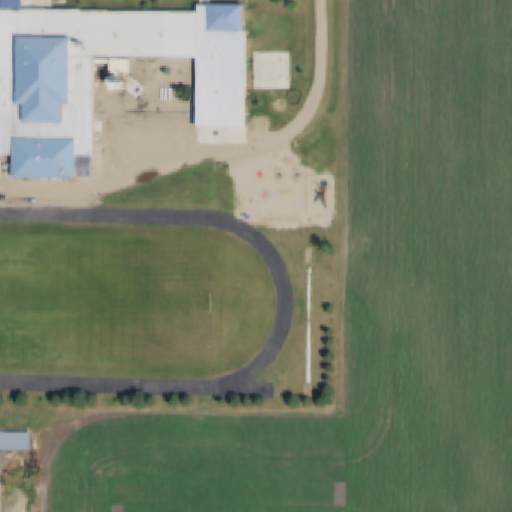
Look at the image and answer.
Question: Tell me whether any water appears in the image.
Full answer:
No, the scene doesn't show any water.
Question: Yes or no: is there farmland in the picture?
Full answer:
Yes, the picture does contain farmland.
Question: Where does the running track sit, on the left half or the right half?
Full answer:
It is on the left.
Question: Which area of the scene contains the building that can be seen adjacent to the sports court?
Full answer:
The building that can be seen adjacent to the sports court is in the top left part of the image.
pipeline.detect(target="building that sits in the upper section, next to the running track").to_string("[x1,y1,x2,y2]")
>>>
[0,0,246,178]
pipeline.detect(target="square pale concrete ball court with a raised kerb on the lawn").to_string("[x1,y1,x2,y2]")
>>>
[254,53,289,88]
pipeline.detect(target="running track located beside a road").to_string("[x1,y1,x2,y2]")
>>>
[0,208,294,398]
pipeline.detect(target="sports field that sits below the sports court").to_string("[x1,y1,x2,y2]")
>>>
[0,218,281,387]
